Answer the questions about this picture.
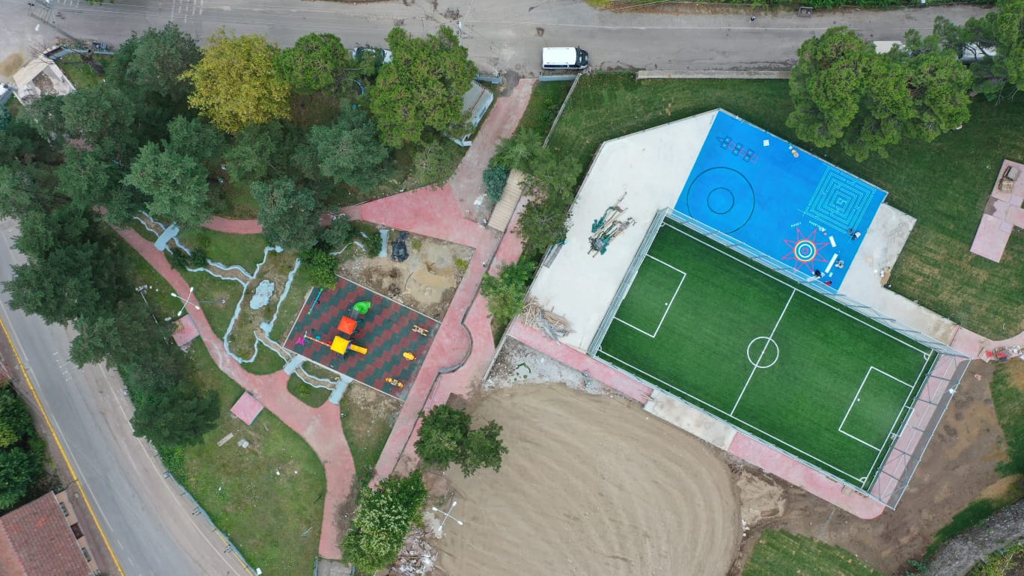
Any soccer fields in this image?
Yes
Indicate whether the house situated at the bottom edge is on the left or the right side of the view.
left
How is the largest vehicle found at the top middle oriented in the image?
horizontally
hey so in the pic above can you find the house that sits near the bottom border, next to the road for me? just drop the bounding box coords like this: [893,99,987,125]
[0,486,112,576]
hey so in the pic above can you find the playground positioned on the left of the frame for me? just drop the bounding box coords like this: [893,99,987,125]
[285,278,440,401]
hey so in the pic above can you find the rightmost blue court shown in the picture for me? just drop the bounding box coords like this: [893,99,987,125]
[673,111,886,297]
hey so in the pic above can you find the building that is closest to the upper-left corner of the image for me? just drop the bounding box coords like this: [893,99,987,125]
[11,55,73,109]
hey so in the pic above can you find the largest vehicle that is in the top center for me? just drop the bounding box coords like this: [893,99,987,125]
[543,47,588,69]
